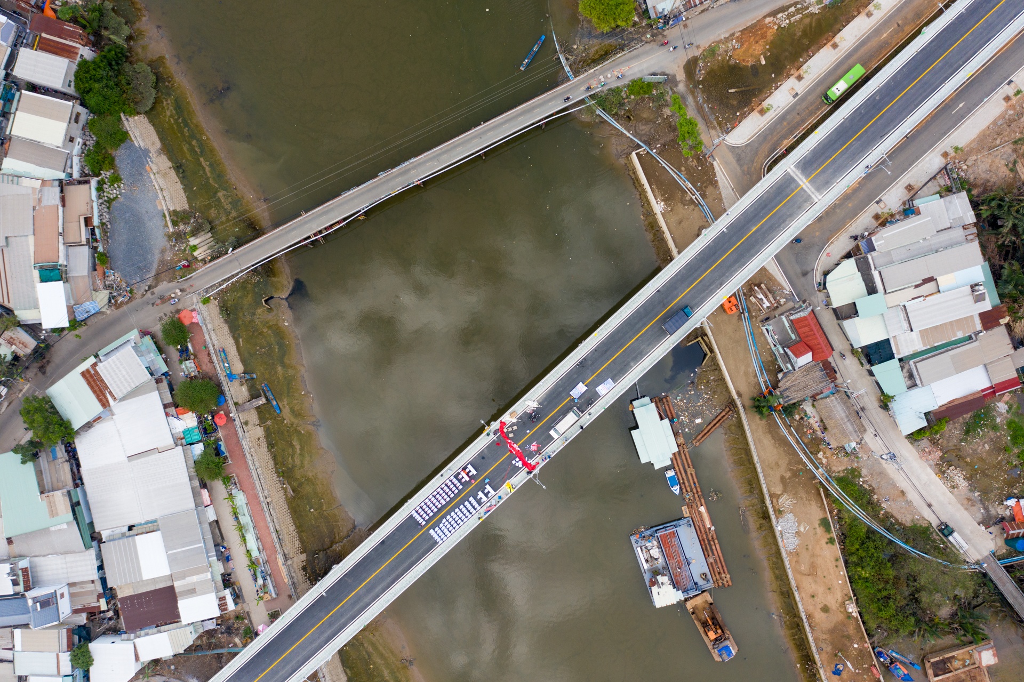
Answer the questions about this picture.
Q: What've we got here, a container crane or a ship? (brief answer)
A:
ship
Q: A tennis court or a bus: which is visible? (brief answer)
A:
bus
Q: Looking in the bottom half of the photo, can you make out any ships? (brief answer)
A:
Yes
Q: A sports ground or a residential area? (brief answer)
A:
residential area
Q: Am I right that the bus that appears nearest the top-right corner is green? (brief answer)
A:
Yes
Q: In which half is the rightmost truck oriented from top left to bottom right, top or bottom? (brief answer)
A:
bottom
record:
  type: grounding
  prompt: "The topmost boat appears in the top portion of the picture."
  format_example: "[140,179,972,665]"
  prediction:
[521,36,544,70]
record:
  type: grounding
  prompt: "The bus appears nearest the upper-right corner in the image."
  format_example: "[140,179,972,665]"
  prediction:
[817,64,865,109]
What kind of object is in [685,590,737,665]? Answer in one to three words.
ship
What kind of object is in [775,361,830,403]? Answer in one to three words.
shed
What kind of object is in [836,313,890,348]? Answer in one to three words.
house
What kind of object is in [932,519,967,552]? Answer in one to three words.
truck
